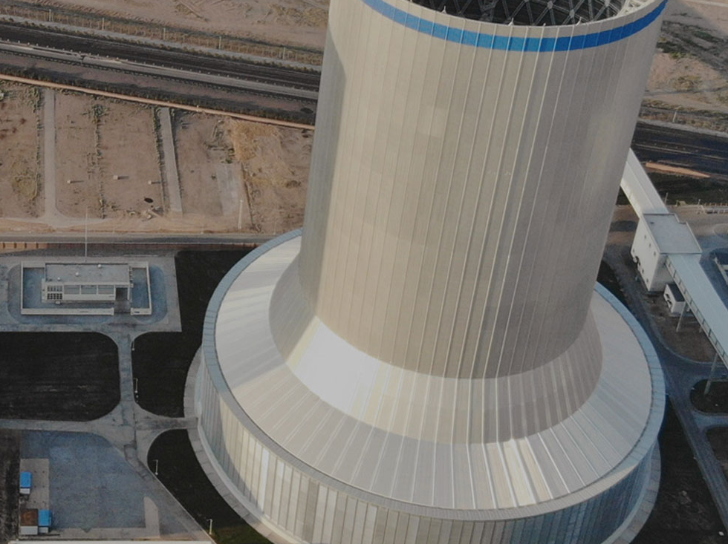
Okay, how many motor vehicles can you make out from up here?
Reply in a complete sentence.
I count no motor vehicles.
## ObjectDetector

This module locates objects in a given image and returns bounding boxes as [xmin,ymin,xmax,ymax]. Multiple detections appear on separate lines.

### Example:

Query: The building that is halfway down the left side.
[39,260,133,301]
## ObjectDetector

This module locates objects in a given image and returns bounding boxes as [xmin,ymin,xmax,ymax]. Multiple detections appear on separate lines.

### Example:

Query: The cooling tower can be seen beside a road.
[195,0,668,544]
